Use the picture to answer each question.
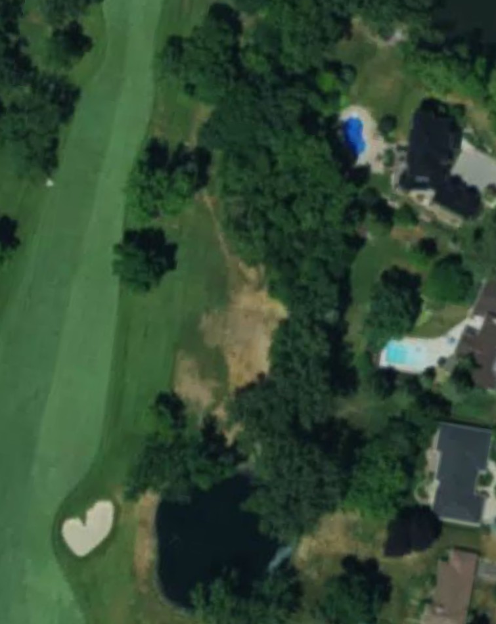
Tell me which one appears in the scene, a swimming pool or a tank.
swimming pool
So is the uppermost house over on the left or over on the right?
right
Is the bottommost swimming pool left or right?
right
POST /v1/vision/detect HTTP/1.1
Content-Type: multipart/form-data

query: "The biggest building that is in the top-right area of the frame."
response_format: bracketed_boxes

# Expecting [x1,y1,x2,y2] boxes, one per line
[400,110,482,218]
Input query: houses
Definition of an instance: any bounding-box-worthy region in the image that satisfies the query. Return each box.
[433,423,492,522]
[457,277,496,383]
[400,110,482,218]
[423,549,478,624]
